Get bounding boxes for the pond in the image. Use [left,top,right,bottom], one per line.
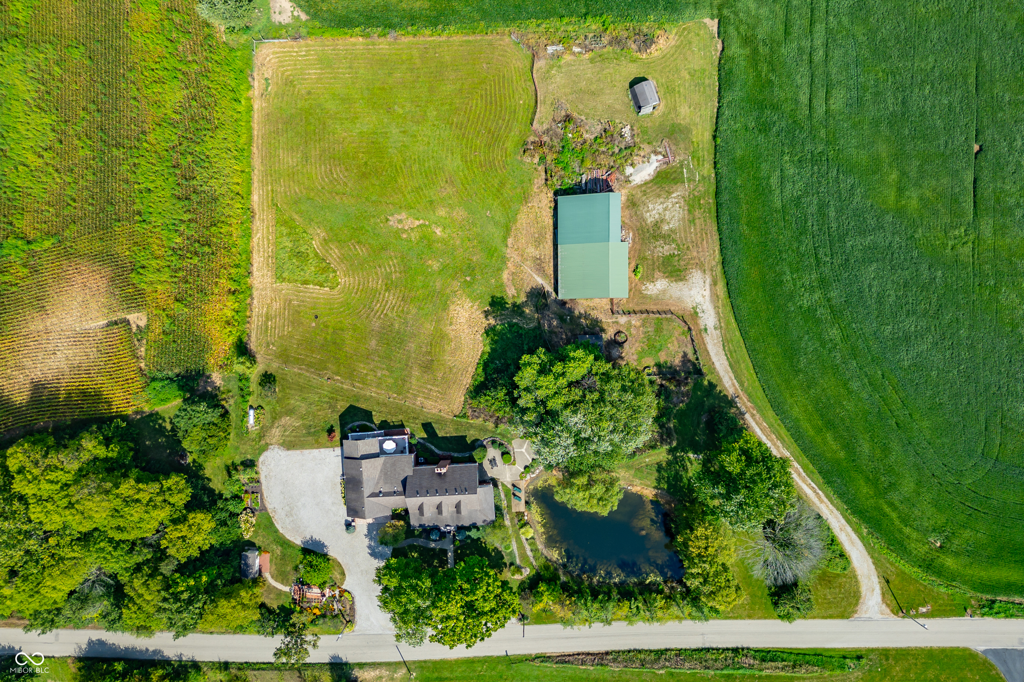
[531,472,688,583]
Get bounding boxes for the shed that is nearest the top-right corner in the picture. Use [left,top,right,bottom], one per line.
[629,78,661,121]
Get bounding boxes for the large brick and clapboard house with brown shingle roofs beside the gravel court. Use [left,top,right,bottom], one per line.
[338,436,495,532]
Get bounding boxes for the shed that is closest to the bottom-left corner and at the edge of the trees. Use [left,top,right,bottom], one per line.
[241,544,260,580]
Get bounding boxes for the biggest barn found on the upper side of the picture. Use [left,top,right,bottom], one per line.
[558,193,628,298]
